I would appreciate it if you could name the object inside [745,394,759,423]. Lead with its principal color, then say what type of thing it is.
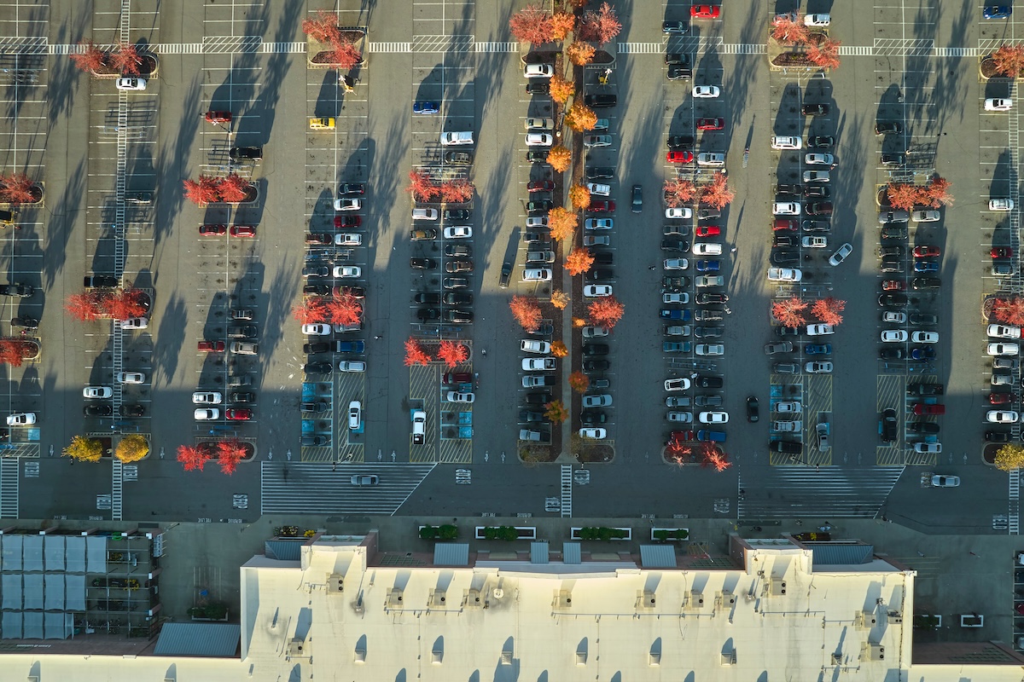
black car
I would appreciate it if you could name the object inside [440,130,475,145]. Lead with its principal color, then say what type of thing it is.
white vehicle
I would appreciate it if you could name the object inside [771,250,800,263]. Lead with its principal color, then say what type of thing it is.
black vehicle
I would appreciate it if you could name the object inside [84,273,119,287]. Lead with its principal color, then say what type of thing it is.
black vehicle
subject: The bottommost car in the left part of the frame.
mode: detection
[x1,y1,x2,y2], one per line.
[350,474,380,487]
